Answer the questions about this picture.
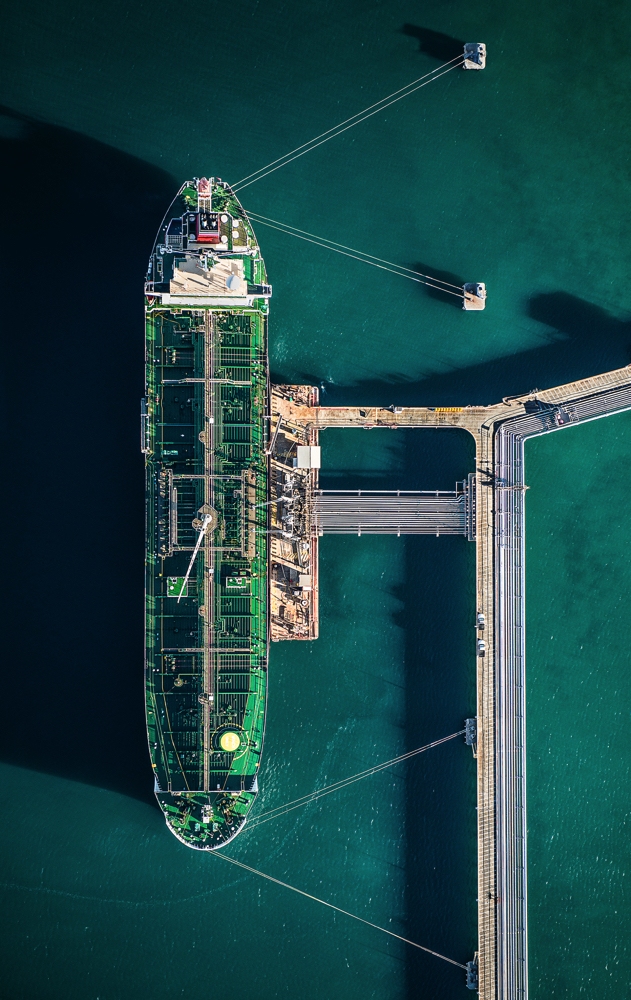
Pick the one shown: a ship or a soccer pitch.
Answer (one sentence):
The image shows a ship.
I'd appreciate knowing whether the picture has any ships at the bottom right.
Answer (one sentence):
No, I can find no ship at the bottom right.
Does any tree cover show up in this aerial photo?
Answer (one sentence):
No, there is no tree cover in the image.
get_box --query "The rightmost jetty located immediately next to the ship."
[474,365,631,1000]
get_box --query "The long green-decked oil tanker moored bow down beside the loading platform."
[141,177,272,853]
